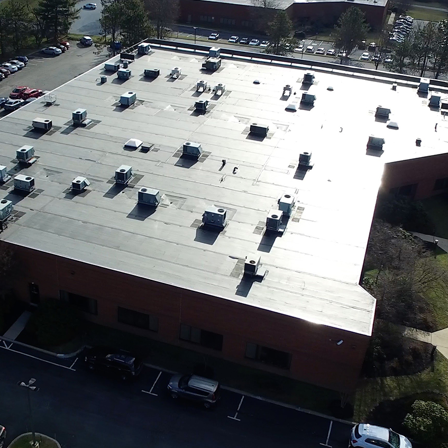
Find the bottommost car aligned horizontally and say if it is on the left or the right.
right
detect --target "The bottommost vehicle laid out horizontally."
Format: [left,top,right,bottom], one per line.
[348,421,413,448]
